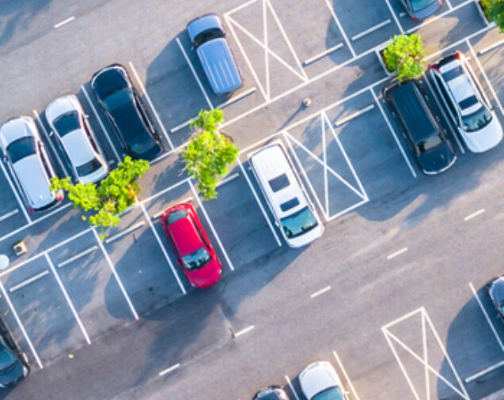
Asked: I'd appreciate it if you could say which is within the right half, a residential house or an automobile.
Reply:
automobile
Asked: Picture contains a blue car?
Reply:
Yes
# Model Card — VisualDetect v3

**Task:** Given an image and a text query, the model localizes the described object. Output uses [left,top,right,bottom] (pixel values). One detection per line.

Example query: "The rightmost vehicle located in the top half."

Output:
[430,52,504,156]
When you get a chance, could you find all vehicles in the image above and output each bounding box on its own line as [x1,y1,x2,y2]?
[186,11,246,96]
[248,138,326,251]
[92,63,162,165]
[300,359,350,400]
[161,200,226,290]
[399,0,443,24]
[44,94,110,185]
[384,75,459,179]
[0,116,64,212]
[430,52,504,156]
[0,302,31,390]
